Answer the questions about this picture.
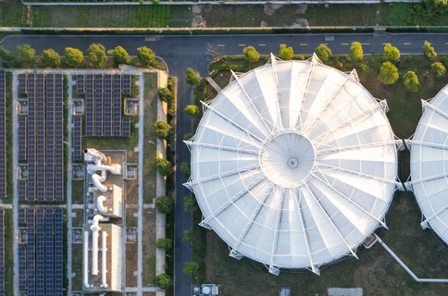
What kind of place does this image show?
industrial area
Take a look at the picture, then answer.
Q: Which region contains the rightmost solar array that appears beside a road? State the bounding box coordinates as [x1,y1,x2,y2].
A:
[74,74,131,160]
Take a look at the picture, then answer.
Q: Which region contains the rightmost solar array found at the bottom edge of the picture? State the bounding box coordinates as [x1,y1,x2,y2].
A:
[18,208,64,296]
